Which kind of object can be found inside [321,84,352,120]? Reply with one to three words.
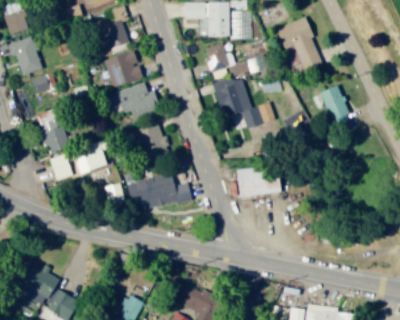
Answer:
house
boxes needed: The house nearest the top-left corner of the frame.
[5,2,29,37]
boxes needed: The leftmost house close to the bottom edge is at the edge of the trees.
[31,268,77,320]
